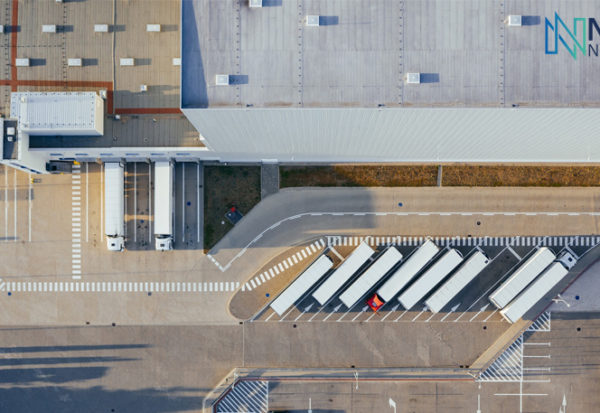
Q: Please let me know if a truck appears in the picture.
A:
Yes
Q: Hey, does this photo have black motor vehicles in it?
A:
No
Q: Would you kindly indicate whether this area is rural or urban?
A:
urban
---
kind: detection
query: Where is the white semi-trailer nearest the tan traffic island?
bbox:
[270,254,336,316]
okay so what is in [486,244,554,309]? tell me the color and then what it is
white trailer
